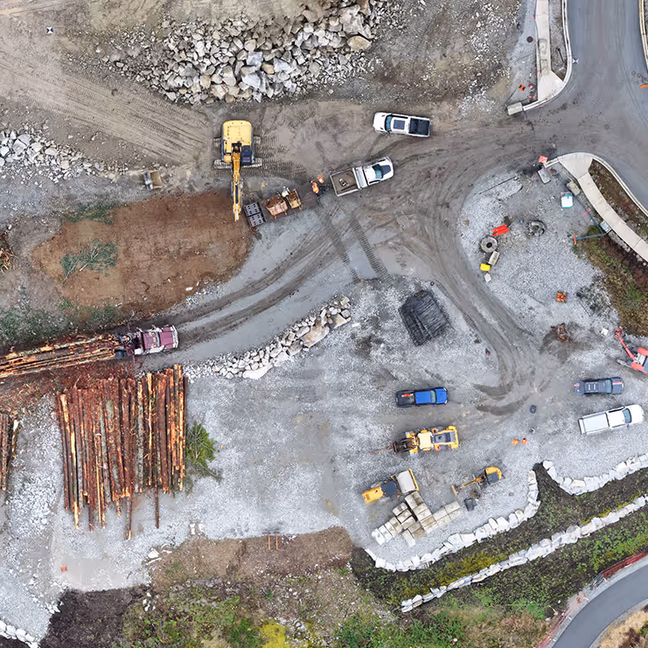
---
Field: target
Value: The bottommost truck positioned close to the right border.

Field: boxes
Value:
[578,403,646,436]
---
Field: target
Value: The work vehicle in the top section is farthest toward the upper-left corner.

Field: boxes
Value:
[212,120,264,220]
